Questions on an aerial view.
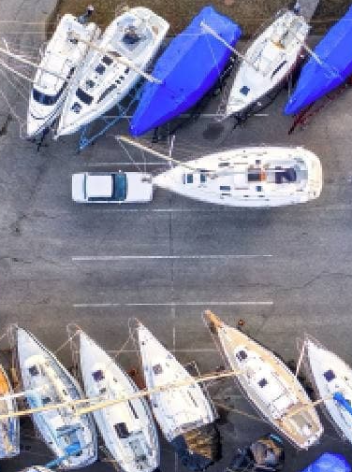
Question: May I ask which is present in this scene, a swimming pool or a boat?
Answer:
boat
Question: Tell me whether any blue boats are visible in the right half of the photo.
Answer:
Yes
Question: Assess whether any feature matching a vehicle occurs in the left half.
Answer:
Yes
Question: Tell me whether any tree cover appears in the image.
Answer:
No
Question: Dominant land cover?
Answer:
paved ground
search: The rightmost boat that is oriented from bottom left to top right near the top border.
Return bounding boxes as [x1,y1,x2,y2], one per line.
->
[282,6,352,114]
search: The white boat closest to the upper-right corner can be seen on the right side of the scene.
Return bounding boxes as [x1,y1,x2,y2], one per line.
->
[198,11,308,118]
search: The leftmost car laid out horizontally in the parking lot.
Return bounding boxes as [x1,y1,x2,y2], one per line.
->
[71,168,157,206]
